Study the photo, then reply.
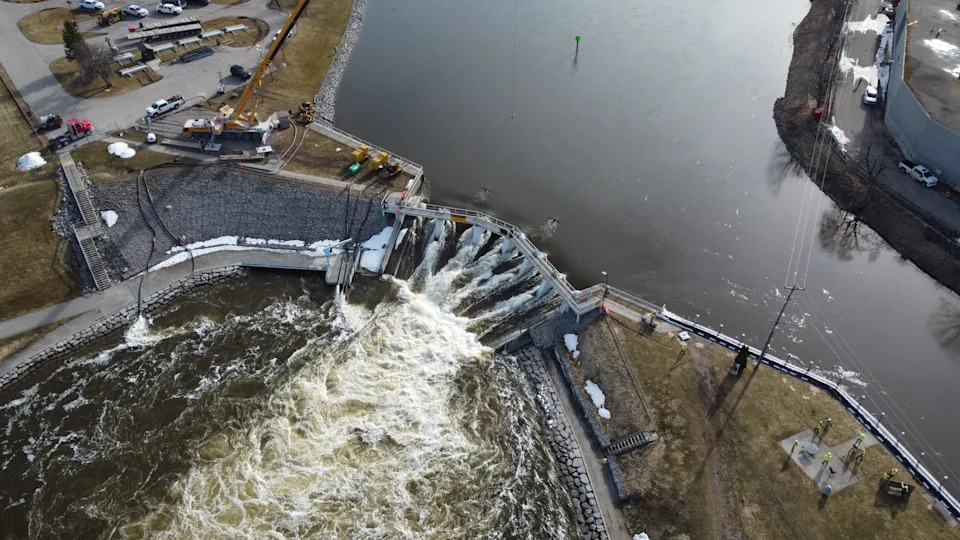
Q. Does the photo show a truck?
Yes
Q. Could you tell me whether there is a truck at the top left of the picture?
Yes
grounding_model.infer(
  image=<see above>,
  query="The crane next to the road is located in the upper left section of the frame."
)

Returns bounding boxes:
[184,0,308,144]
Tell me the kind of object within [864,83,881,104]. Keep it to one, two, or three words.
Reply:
car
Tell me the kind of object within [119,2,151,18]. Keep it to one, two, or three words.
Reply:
vehicle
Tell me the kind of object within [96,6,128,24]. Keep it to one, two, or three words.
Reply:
work vehicle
